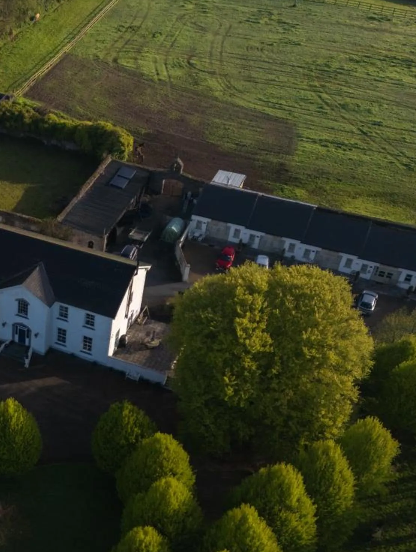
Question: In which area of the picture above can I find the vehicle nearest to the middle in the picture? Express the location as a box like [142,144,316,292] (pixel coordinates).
[216,243,237,268]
